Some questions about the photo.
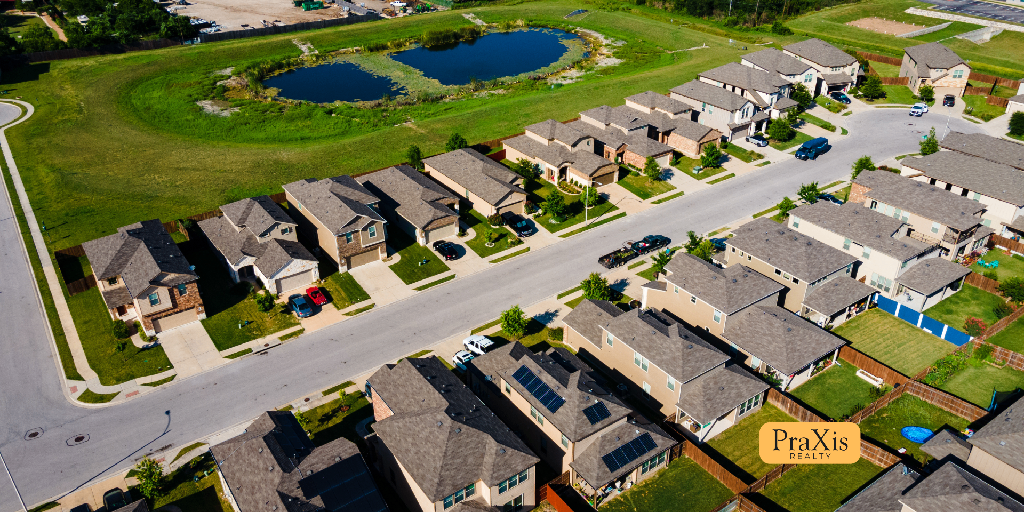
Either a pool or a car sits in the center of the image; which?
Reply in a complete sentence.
The one visible in the center of the image is a car.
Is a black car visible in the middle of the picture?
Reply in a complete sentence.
Yes, there is a black car in the middle of the picture.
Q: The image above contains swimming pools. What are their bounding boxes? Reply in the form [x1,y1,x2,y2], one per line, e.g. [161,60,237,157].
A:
[901,420,936,444]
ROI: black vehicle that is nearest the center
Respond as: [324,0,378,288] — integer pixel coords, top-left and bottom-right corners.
[504,211,536,234]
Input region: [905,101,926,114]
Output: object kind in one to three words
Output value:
vehicle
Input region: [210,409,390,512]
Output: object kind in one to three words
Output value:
building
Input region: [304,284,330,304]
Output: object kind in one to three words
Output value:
car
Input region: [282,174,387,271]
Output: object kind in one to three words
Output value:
house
